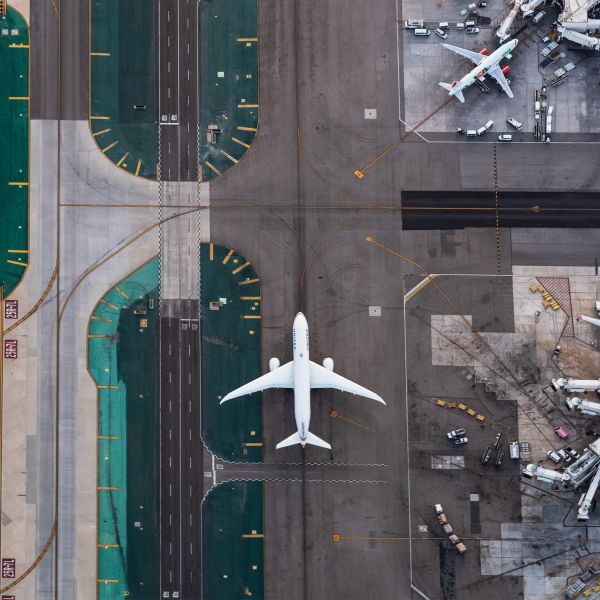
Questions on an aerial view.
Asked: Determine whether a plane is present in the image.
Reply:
Yes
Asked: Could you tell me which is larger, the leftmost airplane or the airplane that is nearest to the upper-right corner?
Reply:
the leftmost airplane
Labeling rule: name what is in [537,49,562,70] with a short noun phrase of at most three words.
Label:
work vehicle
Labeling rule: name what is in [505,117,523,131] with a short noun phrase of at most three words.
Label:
vehicle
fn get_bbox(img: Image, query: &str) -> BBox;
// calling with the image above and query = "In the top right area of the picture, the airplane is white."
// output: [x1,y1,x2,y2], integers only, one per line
[442,40,517,104]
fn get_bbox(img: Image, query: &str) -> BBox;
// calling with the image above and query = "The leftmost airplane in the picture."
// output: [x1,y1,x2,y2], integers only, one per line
[219,312,384,451]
